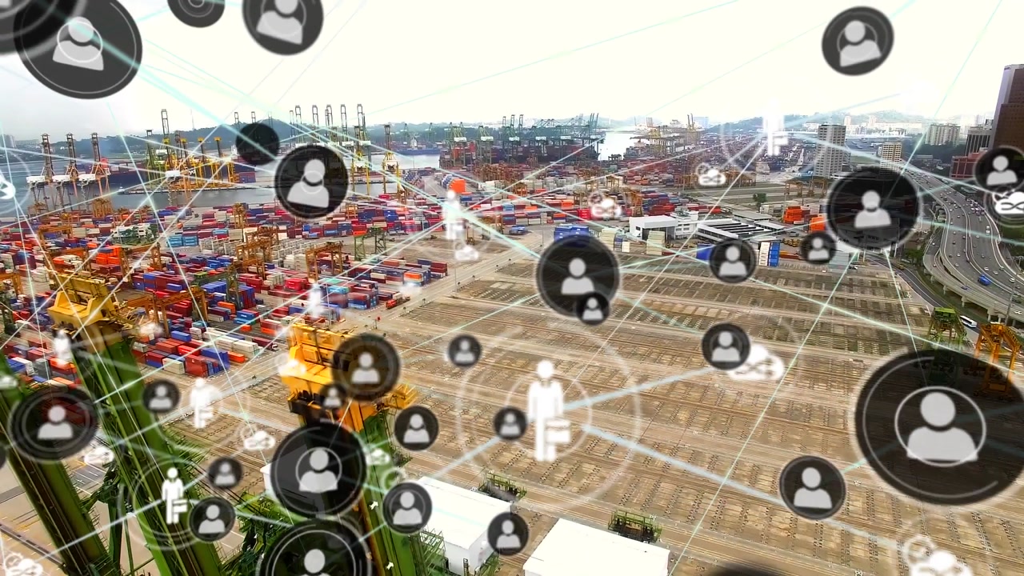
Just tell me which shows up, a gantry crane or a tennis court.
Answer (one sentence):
The image shows a gantry crane.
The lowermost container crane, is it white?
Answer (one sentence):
Yes, the lowermost container crane is indeed white.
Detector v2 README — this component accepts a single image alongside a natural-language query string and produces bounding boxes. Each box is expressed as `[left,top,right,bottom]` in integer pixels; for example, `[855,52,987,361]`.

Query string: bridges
[854,145,1024,309]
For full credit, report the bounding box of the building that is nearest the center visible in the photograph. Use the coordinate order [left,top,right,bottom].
[630,220,685,242]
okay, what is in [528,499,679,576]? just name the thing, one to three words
container crane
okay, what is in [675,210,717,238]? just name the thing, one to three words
building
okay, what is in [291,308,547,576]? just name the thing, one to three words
container crane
